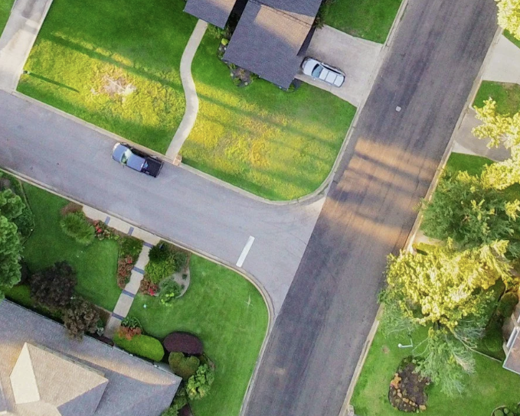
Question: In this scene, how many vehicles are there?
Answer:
2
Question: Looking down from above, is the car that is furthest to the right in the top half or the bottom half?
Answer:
top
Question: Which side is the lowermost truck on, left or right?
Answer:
left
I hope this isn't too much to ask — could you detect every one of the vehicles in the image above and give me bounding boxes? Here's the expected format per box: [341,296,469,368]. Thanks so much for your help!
[108,140,167,181]
[297,54,350,89]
